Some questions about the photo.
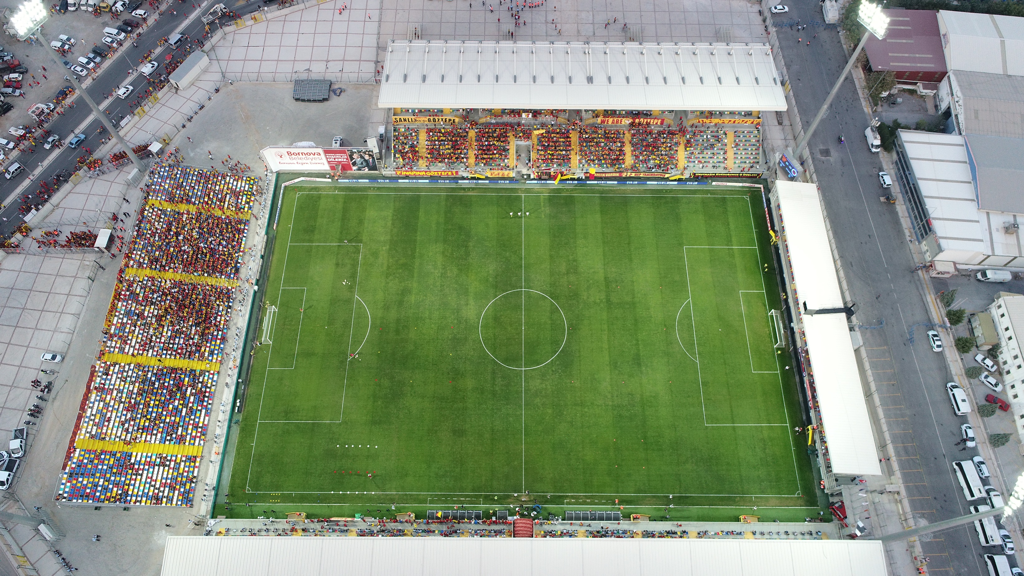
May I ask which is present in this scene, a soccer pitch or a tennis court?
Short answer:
soccer pitch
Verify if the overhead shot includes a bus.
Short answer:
Yes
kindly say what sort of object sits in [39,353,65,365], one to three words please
vehicle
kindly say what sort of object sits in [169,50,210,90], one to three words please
building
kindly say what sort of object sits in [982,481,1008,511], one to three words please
vehicle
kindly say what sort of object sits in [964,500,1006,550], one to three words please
bus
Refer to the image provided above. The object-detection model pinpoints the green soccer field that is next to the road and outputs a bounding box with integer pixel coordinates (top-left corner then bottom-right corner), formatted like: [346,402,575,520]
[213,170,833,522]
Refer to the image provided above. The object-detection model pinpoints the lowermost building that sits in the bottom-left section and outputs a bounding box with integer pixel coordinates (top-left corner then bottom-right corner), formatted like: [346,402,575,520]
[37,519,64,546]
